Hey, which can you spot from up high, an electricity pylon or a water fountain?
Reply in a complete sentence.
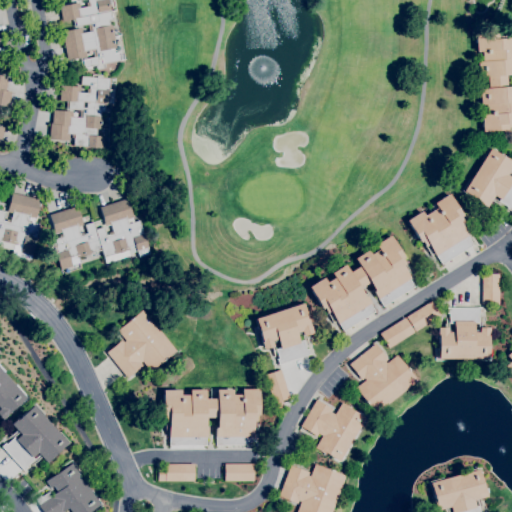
It is a water fountain that can be seen here.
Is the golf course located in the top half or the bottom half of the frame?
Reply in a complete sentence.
The top half of the photo is where the golf course is.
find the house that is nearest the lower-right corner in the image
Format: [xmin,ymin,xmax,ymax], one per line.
[432,470,492,512]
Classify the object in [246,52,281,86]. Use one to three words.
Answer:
fountain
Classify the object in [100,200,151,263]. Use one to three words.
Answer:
house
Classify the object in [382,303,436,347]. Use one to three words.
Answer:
building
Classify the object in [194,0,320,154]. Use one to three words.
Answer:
pond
